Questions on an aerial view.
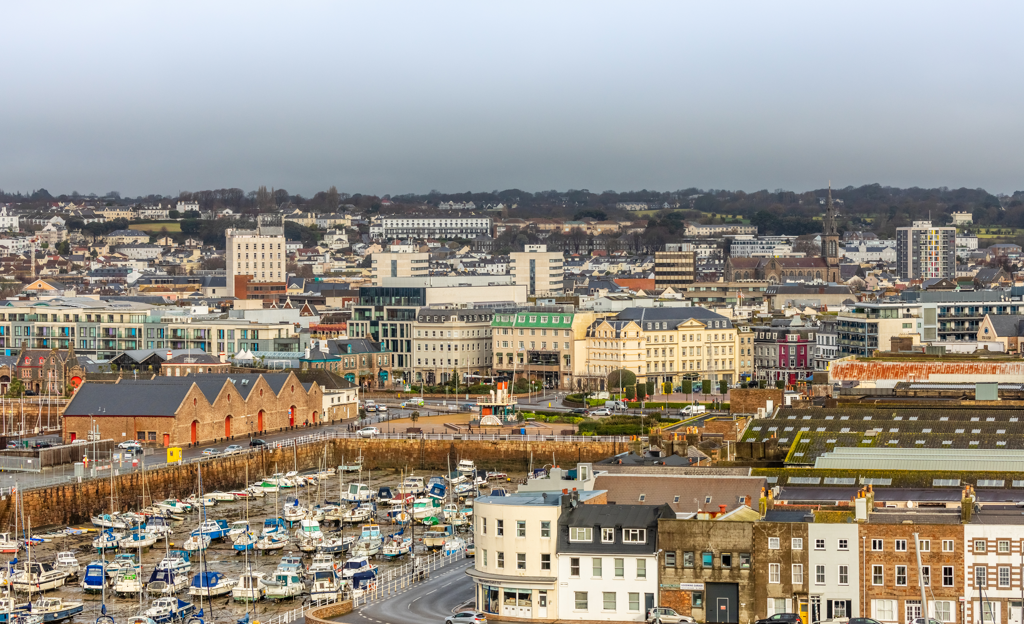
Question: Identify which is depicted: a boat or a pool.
boat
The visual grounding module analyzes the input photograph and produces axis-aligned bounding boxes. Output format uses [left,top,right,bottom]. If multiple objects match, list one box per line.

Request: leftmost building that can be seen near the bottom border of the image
[462,486,563,616]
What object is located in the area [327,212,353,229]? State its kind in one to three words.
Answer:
house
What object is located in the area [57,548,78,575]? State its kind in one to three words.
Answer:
boat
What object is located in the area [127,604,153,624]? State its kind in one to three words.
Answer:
boat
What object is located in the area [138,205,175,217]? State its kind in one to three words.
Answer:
house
